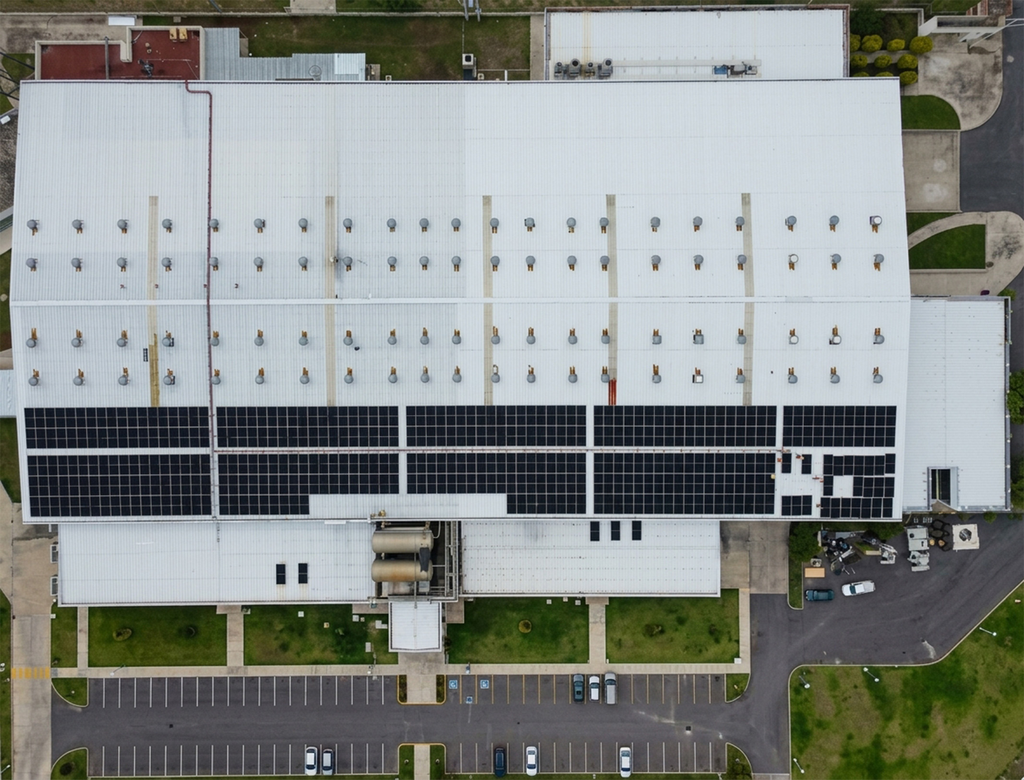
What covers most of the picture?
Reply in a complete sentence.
What you mostly see from above here is buildings.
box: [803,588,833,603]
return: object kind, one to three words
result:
car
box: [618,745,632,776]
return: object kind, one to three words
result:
car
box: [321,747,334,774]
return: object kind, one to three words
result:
vehicle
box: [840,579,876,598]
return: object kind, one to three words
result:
vehicle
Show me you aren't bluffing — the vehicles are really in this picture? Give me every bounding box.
[803,588,833,603]
[572,673,585,702]
[493,746,506,776]
[321,747,334,774]
[604,671,618,706]
[618,745,632,776]
[840,579,876,598]
[588,674,601,701]
[524,744,538,775]
[304,745,319,774]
